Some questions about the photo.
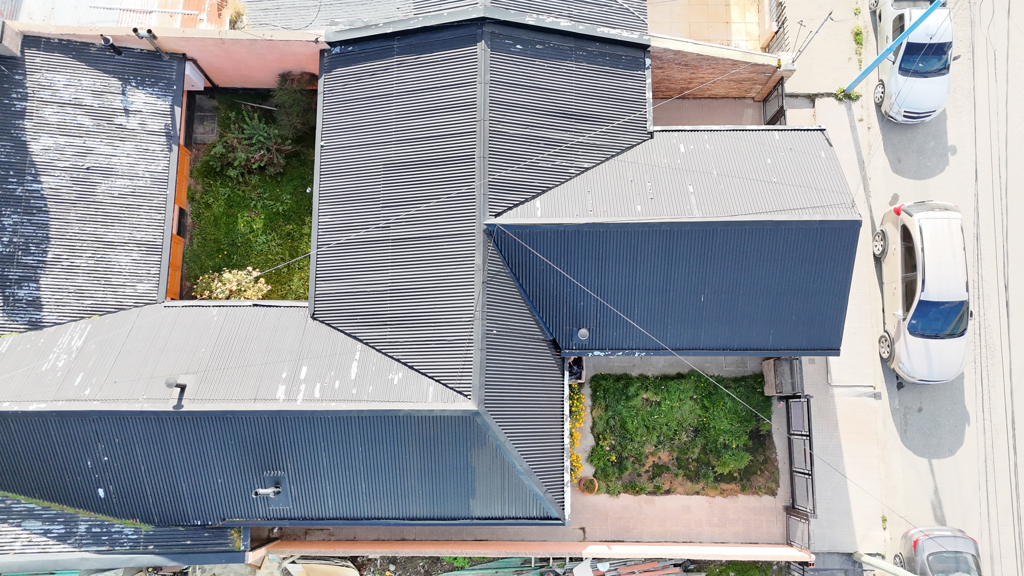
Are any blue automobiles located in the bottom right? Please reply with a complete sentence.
No, no blue automobile is visible in the bottom right.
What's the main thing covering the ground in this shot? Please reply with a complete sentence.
Most of the picture is covered by buildings.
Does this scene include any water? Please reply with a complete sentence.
No, the scene doesn't show any water.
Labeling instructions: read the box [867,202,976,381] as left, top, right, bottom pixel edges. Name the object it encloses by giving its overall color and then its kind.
white car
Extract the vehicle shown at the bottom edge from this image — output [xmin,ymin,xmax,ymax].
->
[891,530,985,576]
